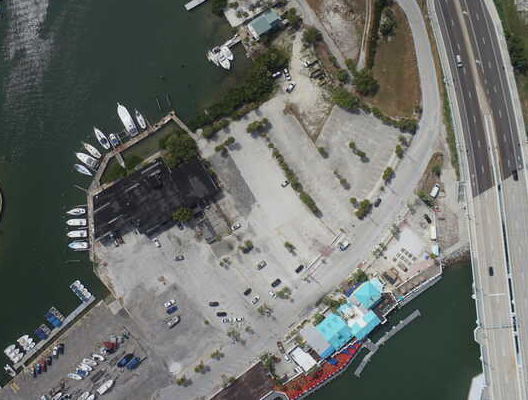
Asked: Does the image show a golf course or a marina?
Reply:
marina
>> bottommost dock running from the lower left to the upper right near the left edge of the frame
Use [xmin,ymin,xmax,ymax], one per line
[15,294,95,366]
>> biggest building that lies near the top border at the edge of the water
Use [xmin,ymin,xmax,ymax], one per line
[249,13,275,37]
